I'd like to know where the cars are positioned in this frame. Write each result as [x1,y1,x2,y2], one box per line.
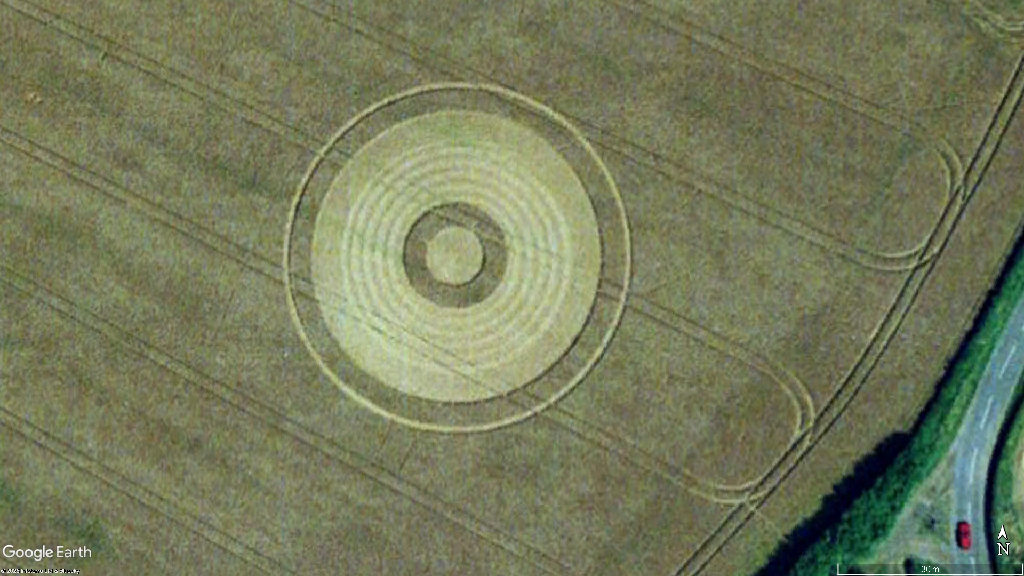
[960,524,973,551]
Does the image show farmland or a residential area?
farmland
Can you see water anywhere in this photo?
No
